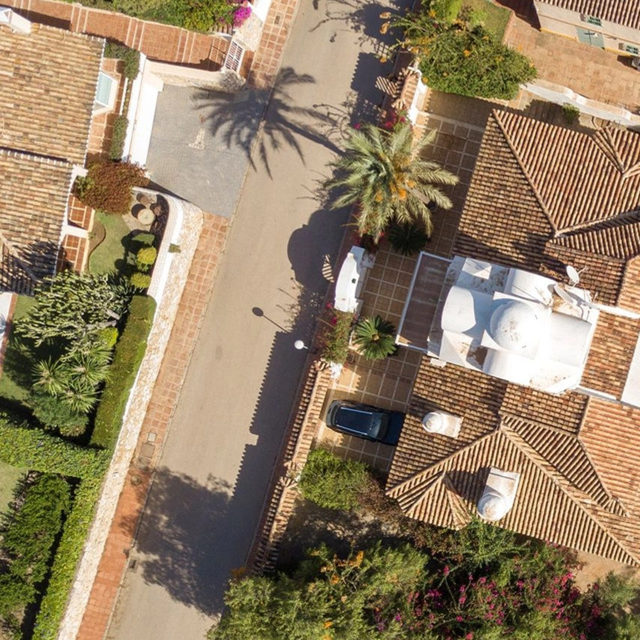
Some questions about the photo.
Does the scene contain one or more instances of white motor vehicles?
No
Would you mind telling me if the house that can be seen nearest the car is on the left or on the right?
right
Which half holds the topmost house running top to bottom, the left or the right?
left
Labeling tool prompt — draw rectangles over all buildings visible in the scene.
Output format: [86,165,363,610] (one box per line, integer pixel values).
[537,0,640,59]
[0,5,131,294]
[384,109,640,567]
